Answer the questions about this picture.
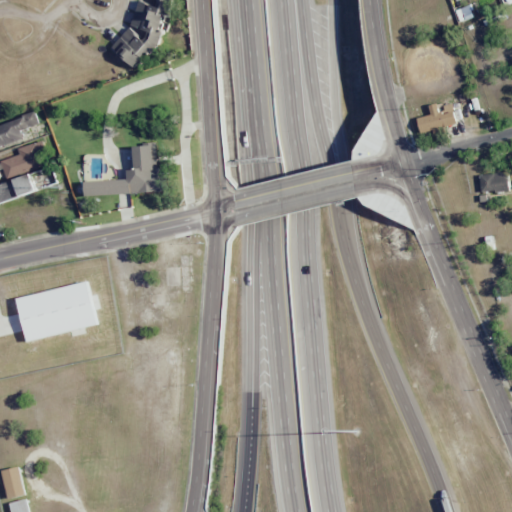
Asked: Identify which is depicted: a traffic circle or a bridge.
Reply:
bridge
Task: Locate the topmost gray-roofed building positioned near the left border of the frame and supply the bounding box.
[0,112,40,146]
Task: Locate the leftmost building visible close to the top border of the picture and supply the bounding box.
[114,0,170,67]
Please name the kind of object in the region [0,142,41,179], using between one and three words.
house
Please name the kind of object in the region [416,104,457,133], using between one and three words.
house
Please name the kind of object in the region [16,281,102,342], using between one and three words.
building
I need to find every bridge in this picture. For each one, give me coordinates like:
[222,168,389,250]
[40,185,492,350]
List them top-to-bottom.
[236,162,358,226]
